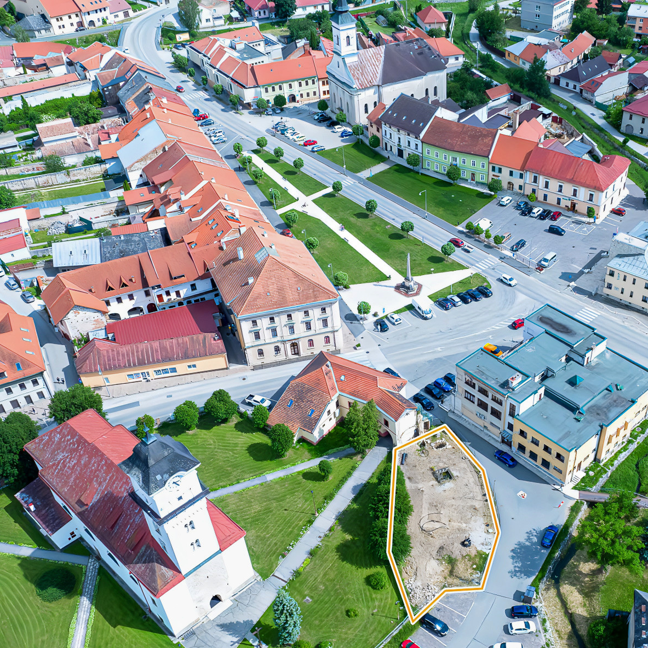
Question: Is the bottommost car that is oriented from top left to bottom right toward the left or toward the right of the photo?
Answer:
right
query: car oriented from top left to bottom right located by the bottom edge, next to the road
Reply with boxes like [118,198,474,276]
[418,610,451,638]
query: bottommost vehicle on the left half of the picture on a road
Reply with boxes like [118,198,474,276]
[245,392,273,408]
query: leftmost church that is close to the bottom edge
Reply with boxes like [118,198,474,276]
[0,408,258,640]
